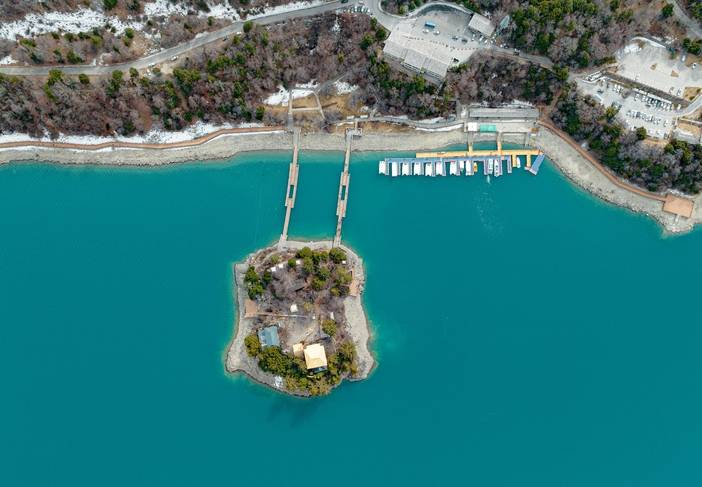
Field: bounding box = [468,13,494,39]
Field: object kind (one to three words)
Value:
building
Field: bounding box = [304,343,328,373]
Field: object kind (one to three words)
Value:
building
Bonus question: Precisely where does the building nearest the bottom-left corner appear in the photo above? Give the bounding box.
[258,325,281,353]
